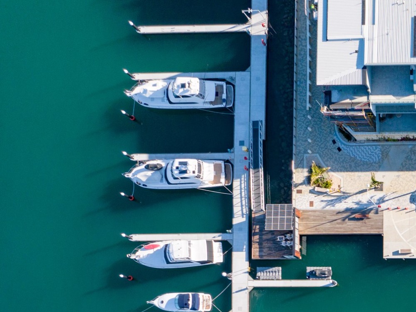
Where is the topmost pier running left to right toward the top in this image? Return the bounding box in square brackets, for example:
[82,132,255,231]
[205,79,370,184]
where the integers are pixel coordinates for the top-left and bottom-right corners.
[137,20,251,36]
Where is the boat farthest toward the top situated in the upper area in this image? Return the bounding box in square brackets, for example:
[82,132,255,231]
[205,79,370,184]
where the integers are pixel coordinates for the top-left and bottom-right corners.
[124,77,235,114]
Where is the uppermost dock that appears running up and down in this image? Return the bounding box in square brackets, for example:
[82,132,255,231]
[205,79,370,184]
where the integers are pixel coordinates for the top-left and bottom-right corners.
[250,0,268,140]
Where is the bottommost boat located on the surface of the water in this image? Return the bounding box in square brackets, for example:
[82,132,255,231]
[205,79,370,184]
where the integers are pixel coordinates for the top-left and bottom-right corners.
[142,283,231,312]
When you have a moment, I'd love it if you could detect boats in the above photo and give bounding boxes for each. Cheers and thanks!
[123,159,233,202]
[127,239,228,267]
[313,269,335,277]
[142,283,231,312]
[124,77,235,114]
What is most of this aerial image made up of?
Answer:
water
